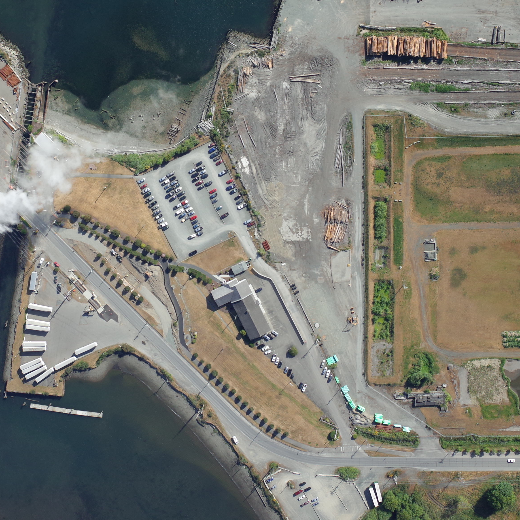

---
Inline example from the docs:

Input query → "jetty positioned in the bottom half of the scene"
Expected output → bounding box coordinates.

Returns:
[30,404,102,418]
